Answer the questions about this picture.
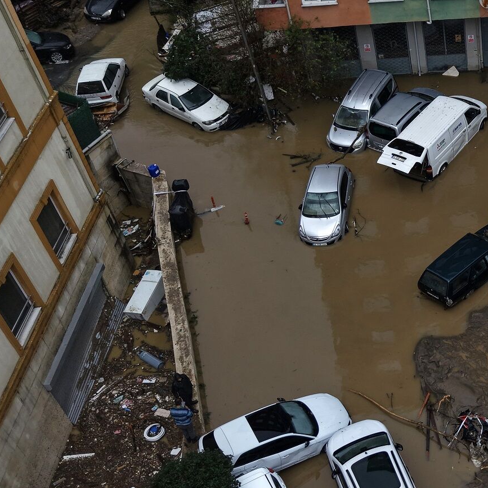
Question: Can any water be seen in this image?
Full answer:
Yes, water shows up in the scene.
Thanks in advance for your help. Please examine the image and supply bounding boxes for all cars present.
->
[328,428,413,488]
[334,70,399,149]
[423,225,488,309]
[368,93,441,153]
[202,385,350,479]
[86,0,123,19]
[296,167,352,244]
[152,79,228,129]
[20,13,80,56]
[79,53,135,100]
